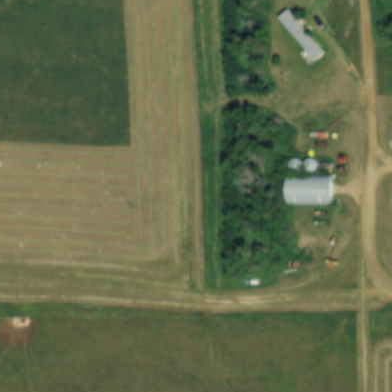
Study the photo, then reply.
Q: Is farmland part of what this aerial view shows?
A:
Yes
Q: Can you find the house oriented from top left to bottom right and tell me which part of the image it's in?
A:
top right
